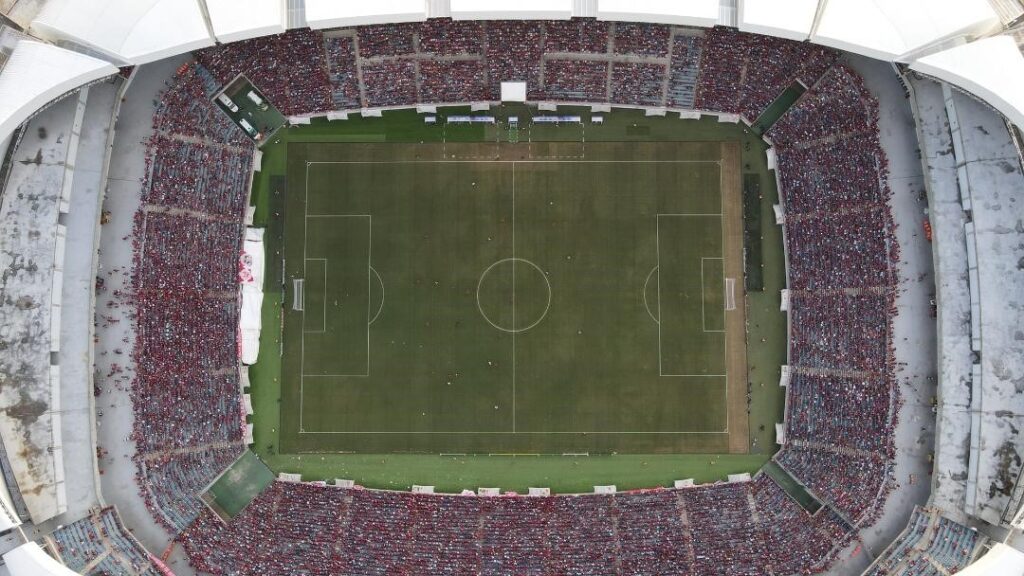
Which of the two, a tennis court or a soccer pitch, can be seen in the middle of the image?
soccer pitch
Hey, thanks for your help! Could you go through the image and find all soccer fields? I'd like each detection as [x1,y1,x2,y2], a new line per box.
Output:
[281,123,749,453]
